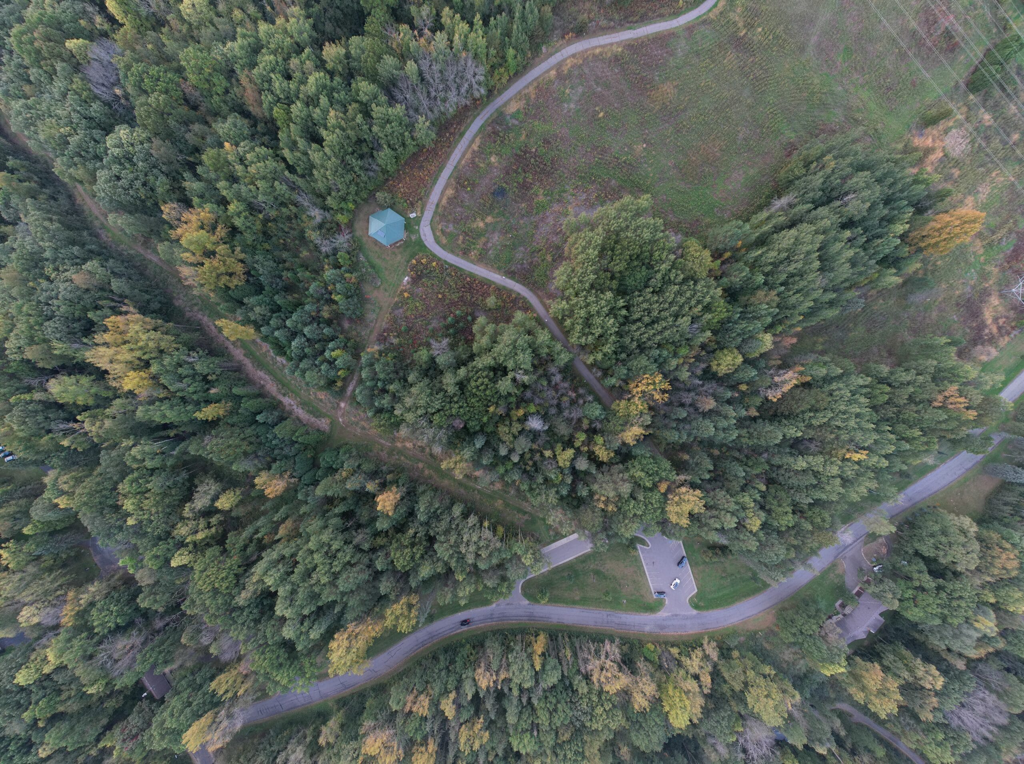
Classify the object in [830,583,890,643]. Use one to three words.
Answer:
house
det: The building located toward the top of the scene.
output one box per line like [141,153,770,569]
[368,208,407,248]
